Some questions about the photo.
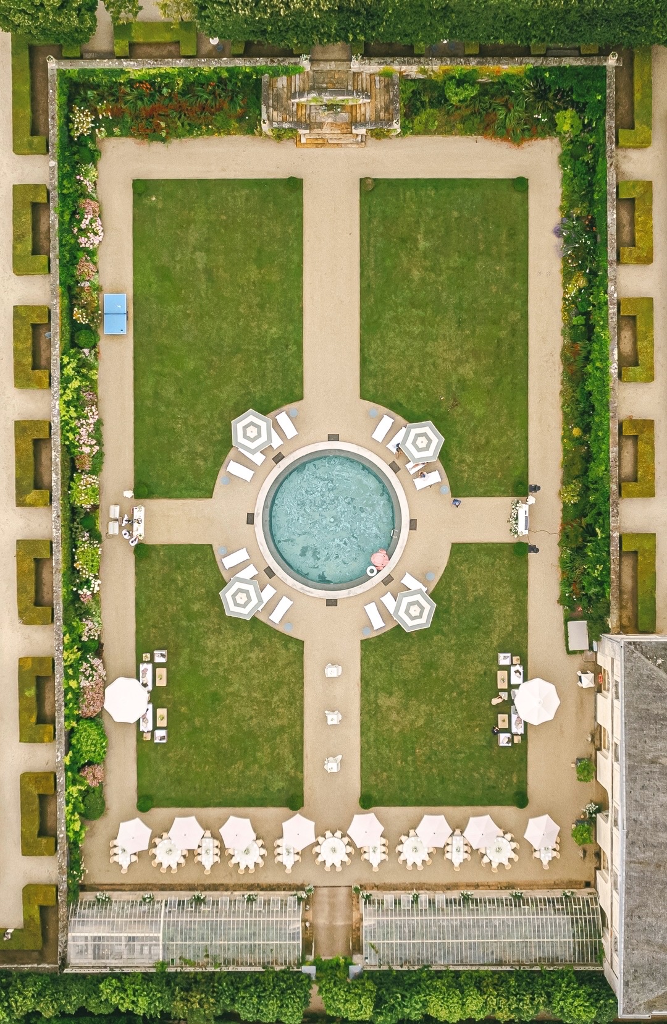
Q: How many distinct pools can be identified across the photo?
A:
1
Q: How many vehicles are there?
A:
0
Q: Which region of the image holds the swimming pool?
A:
center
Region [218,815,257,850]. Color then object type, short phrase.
white umbrella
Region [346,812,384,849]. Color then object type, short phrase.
white umbrella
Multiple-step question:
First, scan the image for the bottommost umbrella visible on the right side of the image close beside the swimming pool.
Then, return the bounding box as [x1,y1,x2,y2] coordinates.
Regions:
[392,587,436,631]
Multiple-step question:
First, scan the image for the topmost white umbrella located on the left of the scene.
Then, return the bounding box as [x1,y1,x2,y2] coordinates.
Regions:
[231,409,271,454]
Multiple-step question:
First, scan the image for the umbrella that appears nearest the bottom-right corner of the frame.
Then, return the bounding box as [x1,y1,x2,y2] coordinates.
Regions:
[523,812,560,850]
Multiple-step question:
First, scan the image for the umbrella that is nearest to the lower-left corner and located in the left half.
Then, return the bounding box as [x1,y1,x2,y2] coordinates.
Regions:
[115,815,153,854]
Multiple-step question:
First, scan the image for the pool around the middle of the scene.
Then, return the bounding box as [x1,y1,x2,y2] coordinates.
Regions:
[255,443,410,597]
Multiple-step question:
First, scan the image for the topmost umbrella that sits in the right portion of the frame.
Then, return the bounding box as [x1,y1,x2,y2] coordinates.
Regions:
[398,421,443,463]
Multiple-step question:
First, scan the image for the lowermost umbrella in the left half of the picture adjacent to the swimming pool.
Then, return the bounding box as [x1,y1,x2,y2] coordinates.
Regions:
[219,576,263,619]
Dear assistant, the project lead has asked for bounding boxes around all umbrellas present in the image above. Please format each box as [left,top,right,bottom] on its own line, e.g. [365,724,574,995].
[524,495,536,505]
[105,674,152,722]
[512,676,559,723]
[398,421,443,463]
[219,576,263,619]
[523,812,560,850]
[115,815,153,854]
[166,815,205,850]
[231,409,271,454]
[392,587,436,631]
[218,815,257,850]
[346,812,384,849]
[463,813,501,850]
[124,490,135,500]
[414,813,452,848]
[281,813,315,852]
